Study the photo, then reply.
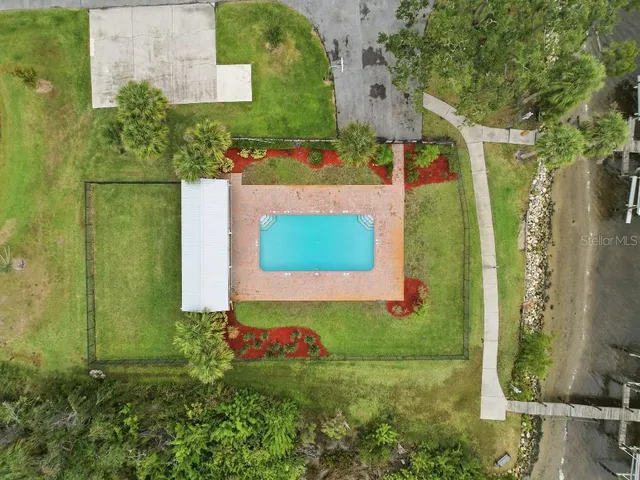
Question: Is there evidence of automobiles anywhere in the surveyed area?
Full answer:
No, no automobile is visible in the view.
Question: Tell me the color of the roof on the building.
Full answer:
From above, the roof of the building looks white.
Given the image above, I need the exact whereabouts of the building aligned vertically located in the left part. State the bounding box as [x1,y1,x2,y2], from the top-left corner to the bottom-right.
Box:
[181,179,234,312]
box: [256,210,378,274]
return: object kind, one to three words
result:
swimming pool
